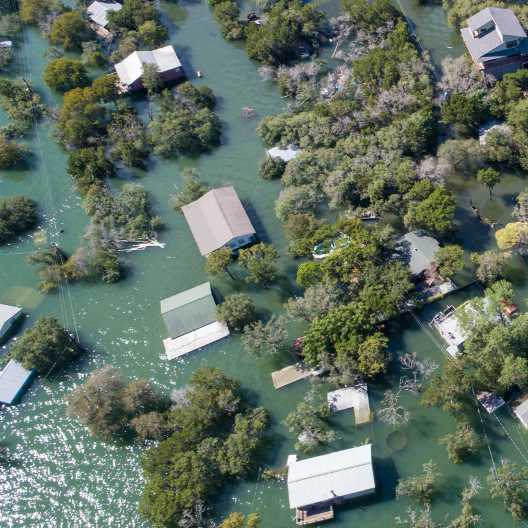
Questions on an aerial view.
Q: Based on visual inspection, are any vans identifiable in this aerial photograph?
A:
No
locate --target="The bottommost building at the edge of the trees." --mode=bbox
[287,443,376,526]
